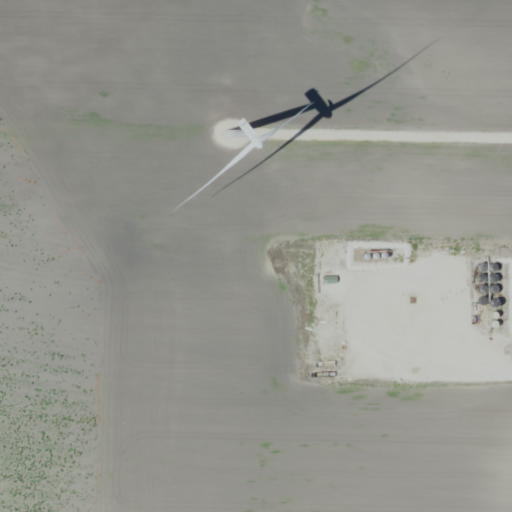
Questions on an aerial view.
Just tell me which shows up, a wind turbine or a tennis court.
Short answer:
wind turbine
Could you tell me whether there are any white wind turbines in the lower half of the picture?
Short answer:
No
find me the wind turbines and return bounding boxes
[172,100,317,213]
